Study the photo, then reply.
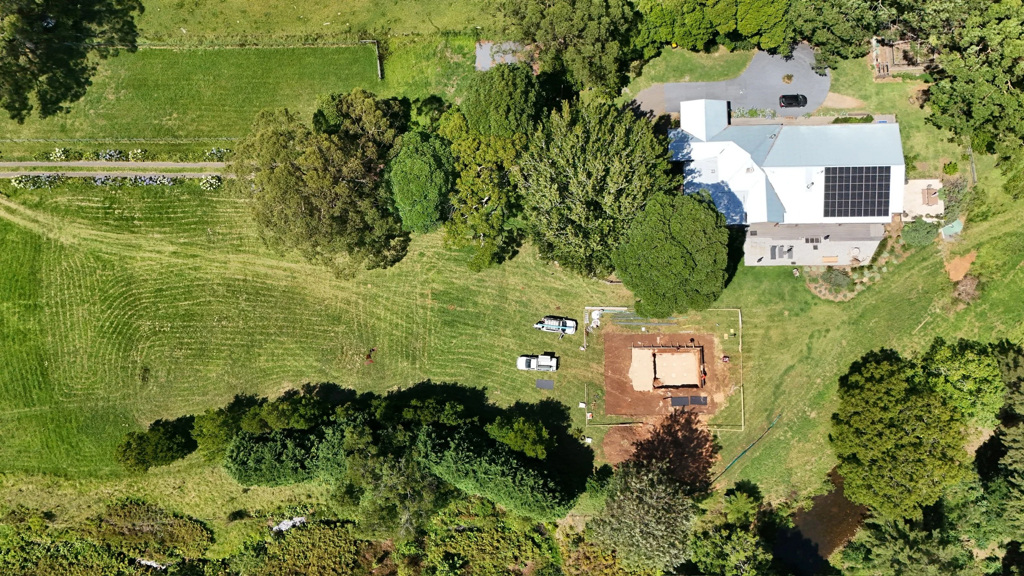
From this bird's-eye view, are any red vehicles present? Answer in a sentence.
No, the photo shows no red vehicle.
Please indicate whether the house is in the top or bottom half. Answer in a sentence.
The house is in the top half of the image.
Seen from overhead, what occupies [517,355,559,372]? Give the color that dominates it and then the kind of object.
white vehicle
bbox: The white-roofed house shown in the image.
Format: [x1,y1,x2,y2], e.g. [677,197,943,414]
[669,99,904,225]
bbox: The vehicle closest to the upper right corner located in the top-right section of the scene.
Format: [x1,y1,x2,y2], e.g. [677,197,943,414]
[778,92,808,108]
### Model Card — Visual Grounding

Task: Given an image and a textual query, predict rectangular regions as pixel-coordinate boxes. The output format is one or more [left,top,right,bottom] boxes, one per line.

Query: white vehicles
[517,355,559,372]
[533,316,578,339]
